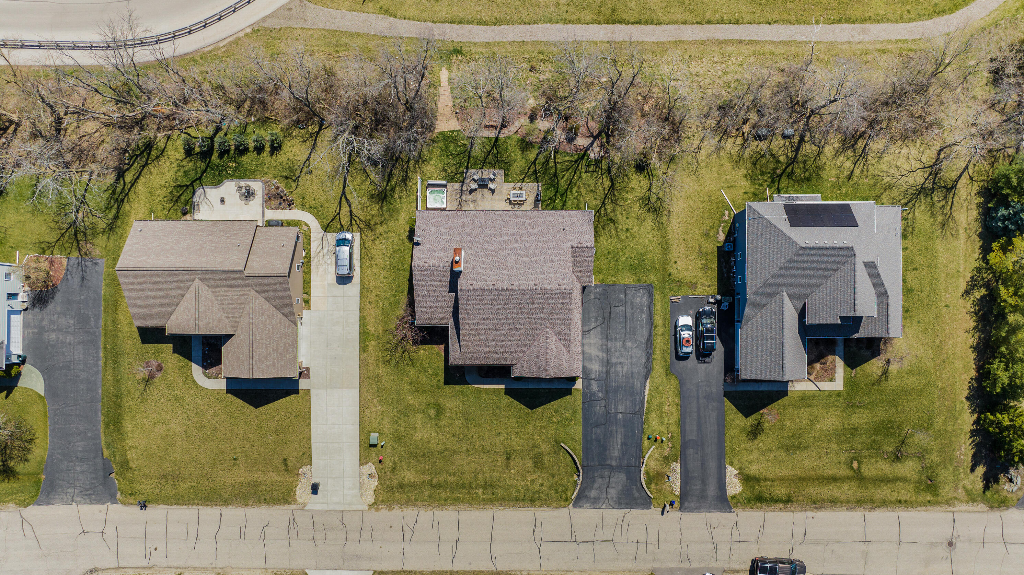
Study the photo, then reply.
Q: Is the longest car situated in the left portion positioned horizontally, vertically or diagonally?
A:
vertically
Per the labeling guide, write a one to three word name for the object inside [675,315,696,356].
car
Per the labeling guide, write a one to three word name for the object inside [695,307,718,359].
car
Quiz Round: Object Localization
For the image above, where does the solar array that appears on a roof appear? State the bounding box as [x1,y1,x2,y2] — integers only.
[784,204,858,227]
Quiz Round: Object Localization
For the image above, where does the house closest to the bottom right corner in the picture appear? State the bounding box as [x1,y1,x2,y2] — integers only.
[722,188,908,387]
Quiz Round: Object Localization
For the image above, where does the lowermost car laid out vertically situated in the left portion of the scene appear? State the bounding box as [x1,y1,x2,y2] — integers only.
[332,231,354,277]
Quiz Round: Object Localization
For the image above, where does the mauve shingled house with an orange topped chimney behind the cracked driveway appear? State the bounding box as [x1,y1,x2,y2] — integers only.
[411,204,596,381]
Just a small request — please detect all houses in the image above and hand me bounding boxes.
[411,204,596,381]
[115,213,306,381]
[722,188,908,387]
[0,251,31,370]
